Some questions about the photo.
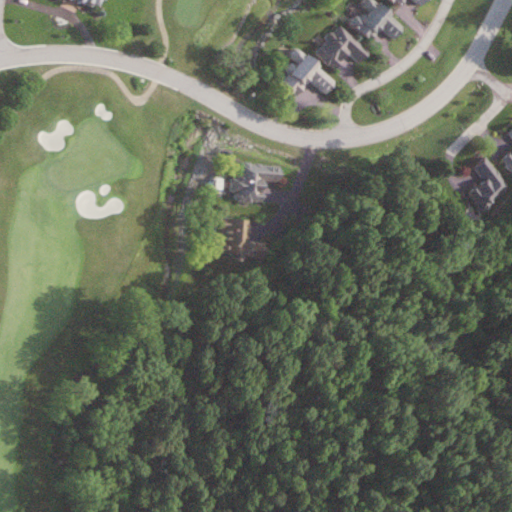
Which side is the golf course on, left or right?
left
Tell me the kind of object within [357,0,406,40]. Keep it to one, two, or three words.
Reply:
house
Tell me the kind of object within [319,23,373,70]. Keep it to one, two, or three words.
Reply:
house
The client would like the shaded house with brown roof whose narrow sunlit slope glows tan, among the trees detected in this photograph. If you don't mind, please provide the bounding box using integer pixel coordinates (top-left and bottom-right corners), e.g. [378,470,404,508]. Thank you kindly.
[224,216,266,257]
